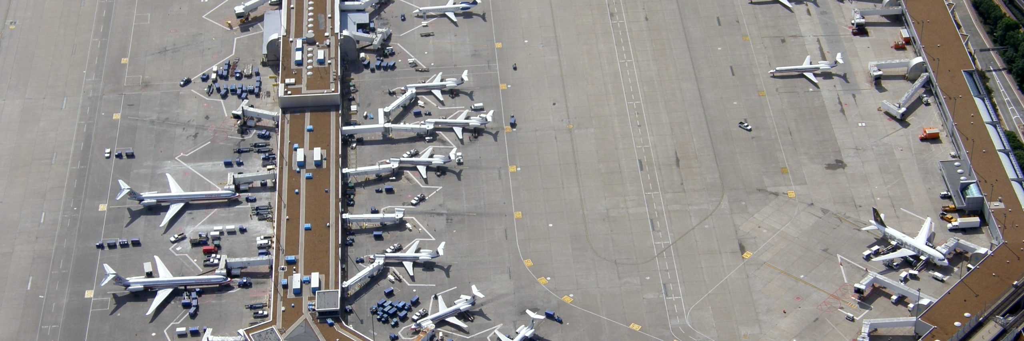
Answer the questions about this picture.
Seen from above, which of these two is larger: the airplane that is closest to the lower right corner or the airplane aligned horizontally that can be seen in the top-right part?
the airplane that is closest to the lower right corner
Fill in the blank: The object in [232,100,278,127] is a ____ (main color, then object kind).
white jet bridge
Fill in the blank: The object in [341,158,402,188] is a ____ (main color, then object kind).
white jet bridge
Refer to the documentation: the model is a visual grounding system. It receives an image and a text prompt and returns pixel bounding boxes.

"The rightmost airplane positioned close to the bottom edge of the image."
[491,309,545,341]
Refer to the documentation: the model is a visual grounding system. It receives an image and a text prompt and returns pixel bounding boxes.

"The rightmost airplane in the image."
[859,205,948,265]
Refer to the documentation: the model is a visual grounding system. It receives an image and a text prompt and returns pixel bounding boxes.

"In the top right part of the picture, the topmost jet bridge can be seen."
[852,9,903,29]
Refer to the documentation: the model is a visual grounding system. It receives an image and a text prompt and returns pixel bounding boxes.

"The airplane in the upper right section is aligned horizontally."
[769,53,842,83]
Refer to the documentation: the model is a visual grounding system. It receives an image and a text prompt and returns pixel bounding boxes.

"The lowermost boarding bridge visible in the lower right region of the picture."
[857,318,916,341]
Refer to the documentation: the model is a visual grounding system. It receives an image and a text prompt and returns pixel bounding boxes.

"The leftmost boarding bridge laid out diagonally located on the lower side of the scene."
[341,254,387,300]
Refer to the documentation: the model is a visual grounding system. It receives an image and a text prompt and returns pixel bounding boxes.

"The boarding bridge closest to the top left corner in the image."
[234,0,267,23]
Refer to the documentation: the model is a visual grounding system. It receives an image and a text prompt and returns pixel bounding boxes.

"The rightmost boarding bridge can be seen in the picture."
[938,238,987,260]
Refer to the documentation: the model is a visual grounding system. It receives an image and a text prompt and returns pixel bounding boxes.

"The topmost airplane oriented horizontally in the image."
[414,0,481,24]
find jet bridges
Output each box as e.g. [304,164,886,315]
[204,327,246,341]
[232,100,278,127]
[938,238,987,260]
[383,119,435,144]
[852,9,903,29]
[341,158,402,188]
[383,85,418,124]
[234,0,267,23]
[225,171,276,193]
[217,255,273,280]
[350,28,391,53]
[341,0,381,11]
[341,254,387,300]
[857,318,916,341]
[854,272,934,308]
[341,208,405,234]
[415,319,439,341]
[880,74,931,122]
[867,61,909,83]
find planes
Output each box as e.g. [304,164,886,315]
[769,53,842,83]
[400,147,461,178]
[410,284,487,331]
[401,70,472,100]
[414,0,481,24]
[491,309,545,341]
[369,241,448,276]
[859,205,948,265]
[97,256,232,315]
[434,109,494,139]
[777,0,788,8]
[112,174,241,227]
